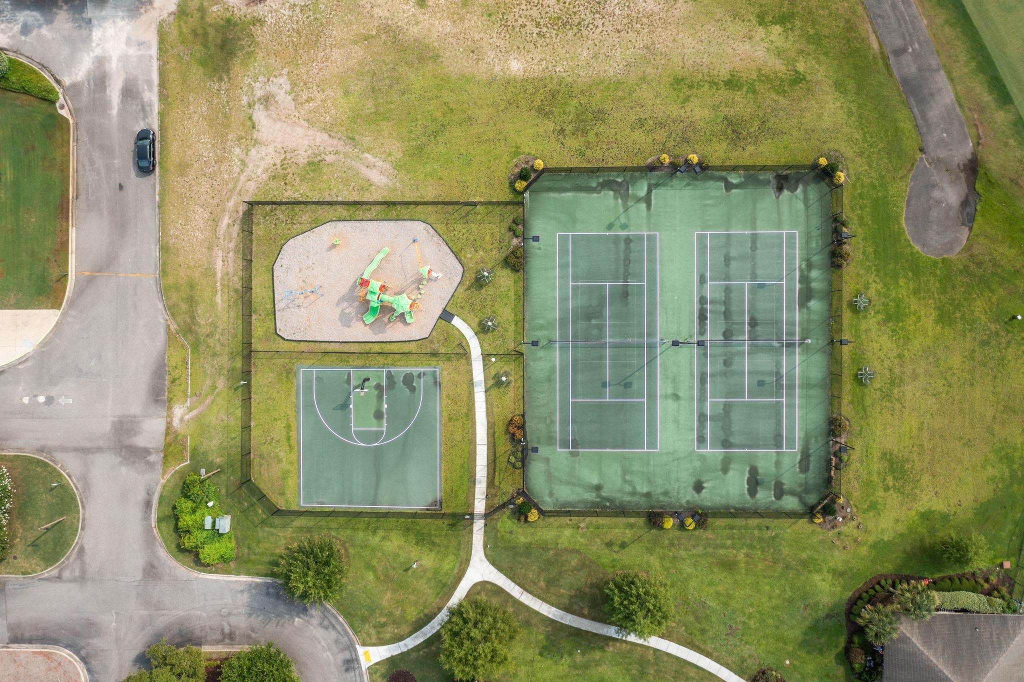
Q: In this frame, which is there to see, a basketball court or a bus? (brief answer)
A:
basketball court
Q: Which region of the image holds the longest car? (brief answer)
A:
top left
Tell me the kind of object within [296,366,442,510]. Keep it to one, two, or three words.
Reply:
basketball court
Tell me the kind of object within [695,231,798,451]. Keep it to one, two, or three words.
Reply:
tennis court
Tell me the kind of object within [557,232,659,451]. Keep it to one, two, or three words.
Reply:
tennis court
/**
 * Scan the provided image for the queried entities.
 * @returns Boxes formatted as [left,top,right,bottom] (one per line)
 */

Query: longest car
[131,128,154,171]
